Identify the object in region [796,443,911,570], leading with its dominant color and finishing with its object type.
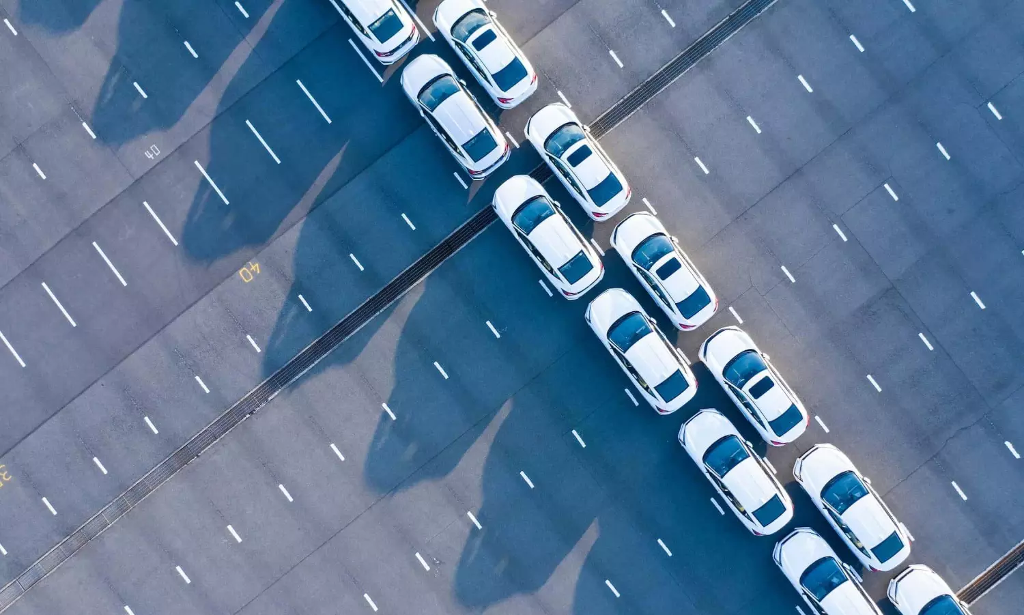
white car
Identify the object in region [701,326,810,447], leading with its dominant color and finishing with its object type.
white car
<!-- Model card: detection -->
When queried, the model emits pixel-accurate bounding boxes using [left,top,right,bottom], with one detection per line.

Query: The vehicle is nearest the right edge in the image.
[889,566,973,615]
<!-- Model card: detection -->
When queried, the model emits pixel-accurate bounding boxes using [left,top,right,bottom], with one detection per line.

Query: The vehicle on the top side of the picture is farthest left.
[330,0,419,63]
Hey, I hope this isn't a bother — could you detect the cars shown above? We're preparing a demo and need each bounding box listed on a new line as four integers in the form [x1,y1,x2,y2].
[401,56,511,179]
[612,211,719,332]
[774,528,883,615]
[889,566,973,615]
[586,289,698,413]
[701,326,810,447]
[330,0,419,63]
[684,409,796,535]
[527,102,633,223]
[796,443,911,570]
[431,0,538,109]
[493,176,603,298]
